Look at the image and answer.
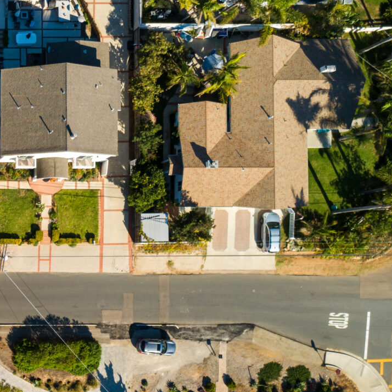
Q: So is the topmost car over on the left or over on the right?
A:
right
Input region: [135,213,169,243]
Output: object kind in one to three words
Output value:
shed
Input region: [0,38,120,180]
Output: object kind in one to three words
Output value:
house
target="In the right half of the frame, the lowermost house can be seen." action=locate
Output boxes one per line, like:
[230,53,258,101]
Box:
[163,37,366,208]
